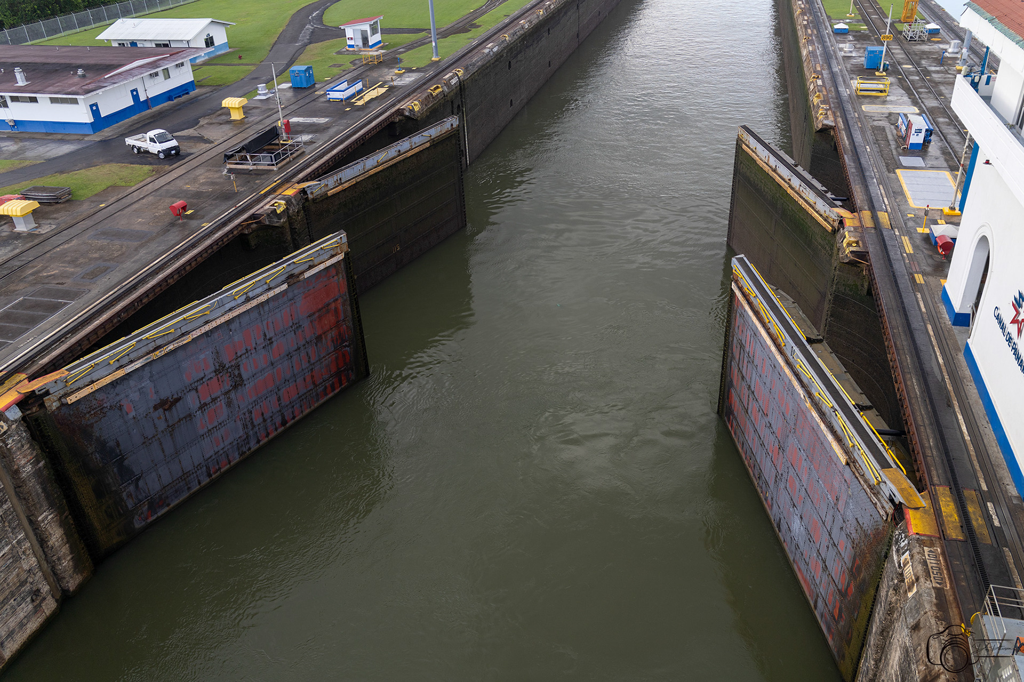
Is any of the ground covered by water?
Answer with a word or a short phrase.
Yes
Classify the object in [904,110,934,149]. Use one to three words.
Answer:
shed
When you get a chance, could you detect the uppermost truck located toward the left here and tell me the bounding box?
[132,130,178,157]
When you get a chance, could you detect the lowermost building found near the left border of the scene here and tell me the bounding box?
[0,47,212,133]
